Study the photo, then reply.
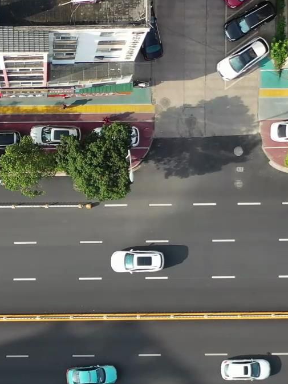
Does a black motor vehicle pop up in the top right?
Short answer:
Yes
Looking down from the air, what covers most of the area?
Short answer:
paved ground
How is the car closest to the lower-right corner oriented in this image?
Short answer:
from side to side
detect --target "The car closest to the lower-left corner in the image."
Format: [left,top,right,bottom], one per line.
[66,363,117,384]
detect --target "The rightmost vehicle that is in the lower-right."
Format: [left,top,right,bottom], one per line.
[221,357,269,382]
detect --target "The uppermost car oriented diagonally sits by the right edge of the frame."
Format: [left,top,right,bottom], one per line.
[223,0,277,42]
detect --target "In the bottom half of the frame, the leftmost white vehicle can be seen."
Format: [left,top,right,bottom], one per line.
[110,248,164,275]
